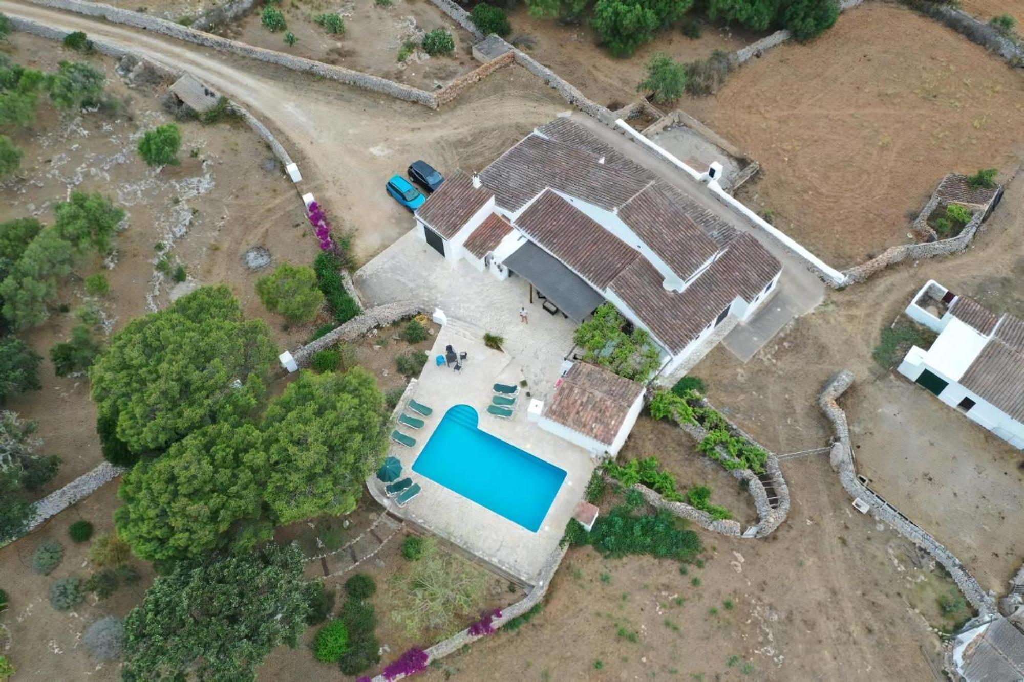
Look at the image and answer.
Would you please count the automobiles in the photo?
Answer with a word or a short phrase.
2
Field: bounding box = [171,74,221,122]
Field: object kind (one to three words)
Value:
shed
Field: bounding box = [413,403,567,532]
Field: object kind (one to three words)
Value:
swimming pool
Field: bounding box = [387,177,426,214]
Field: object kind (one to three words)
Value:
car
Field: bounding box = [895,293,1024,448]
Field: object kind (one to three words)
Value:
building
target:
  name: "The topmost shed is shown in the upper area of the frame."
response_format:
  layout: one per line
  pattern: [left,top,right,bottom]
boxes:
[473,35,513,66]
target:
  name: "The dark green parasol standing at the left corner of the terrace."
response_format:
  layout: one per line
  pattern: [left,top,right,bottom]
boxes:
[377,458,406,485]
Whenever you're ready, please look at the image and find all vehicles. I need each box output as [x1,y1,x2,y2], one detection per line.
[408,162,444,197]
[387,177,426,214]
